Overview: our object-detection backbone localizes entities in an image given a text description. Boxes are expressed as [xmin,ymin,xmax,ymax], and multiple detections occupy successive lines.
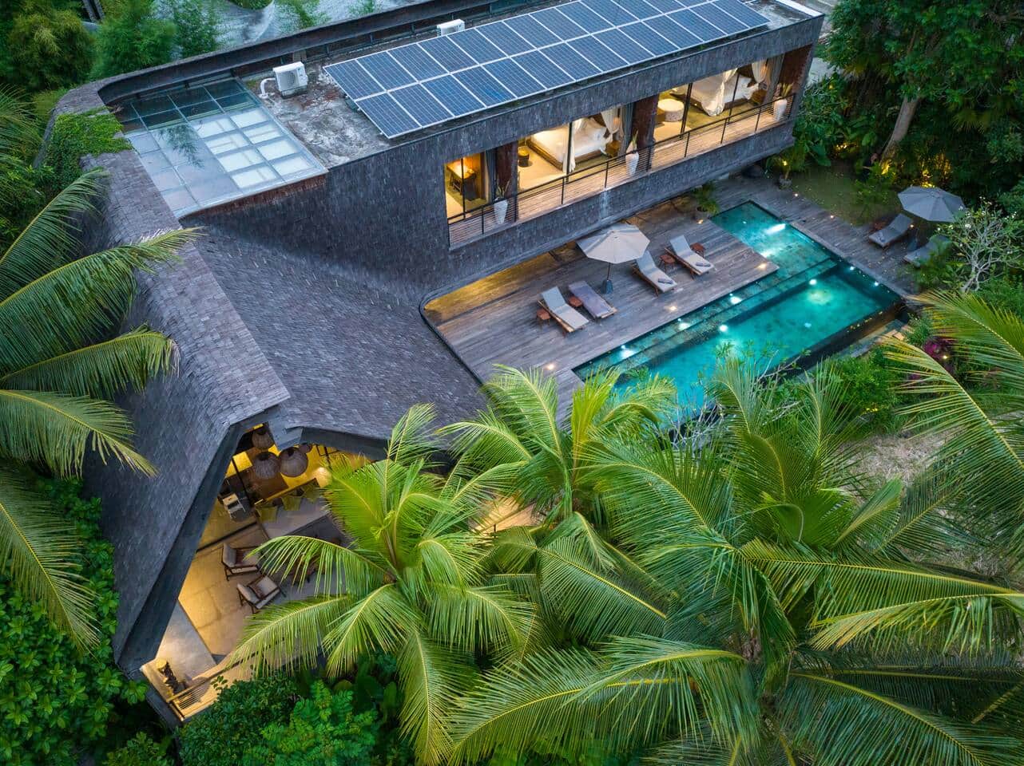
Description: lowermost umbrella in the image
[574,218,655,292]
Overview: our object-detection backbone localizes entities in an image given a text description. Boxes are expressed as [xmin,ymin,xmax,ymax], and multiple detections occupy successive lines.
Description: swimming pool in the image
[571,202,928,469]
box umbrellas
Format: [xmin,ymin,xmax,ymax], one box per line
[897,177,976,248]
[574,218,655,292]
